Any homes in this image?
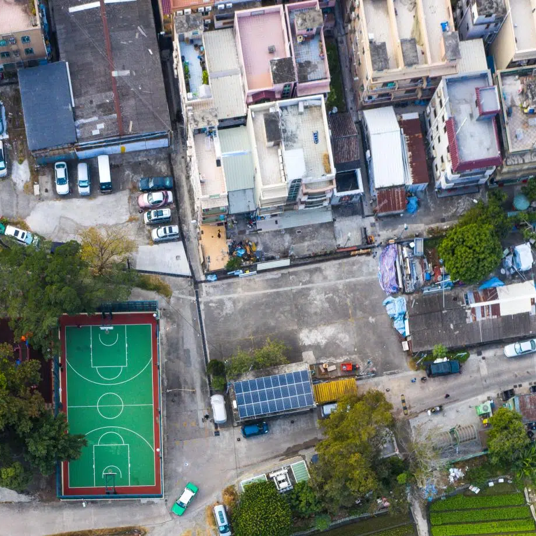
Yes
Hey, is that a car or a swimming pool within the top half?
car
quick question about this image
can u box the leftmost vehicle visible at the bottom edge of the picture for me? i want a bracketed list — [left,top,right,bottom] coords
[173,482,199,517]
